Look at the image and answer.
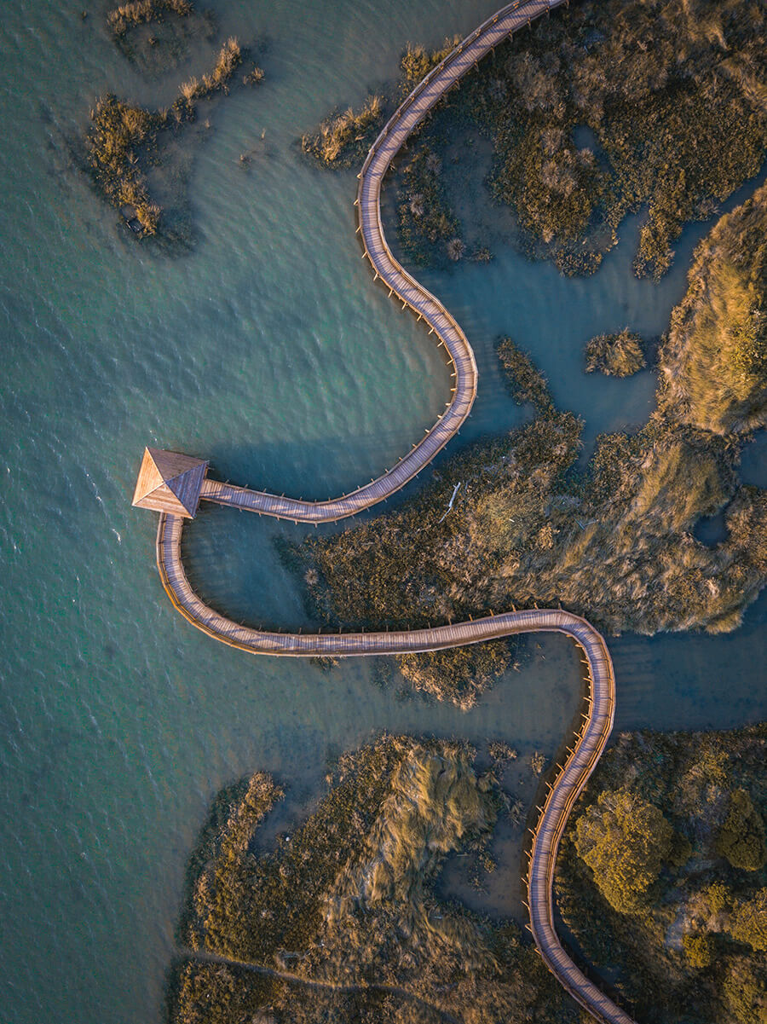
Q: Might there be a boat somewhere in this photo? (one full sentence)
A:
No, no boat is visible in the view.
